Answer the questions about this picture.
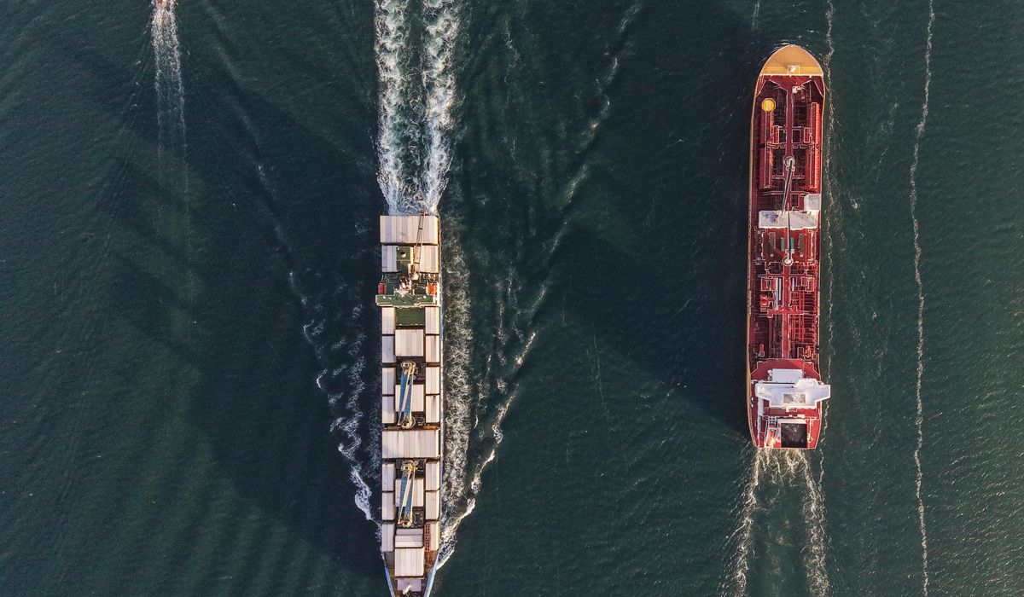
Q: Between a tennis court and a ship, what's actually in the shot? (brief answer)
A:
ship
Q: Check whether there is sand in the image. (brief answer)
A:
No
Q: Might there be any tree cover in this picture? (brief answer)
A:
No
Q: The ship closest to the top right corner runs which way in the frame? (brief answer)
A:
from top to bottom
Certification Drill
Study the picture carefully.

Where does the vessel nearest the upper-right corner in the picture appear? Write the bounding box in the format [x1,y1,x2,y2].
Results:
[744,44,831,449]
